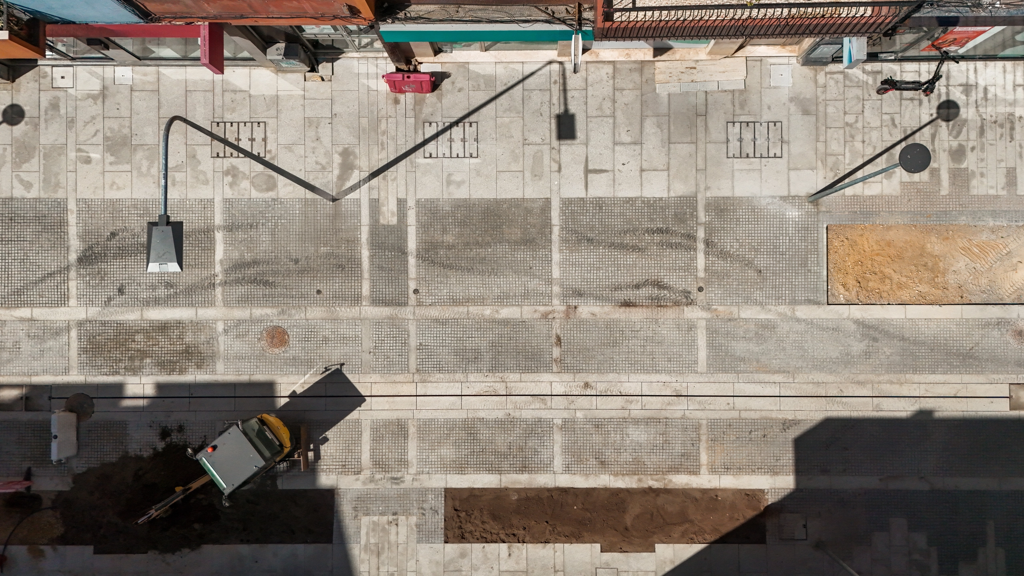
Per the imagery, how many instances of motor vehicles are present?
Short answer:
two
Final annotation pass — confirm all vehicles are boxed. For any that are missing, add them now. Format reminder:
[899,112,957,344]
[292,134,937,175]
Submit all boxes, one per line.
[879,47,962,99]
[134,402,313,526]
